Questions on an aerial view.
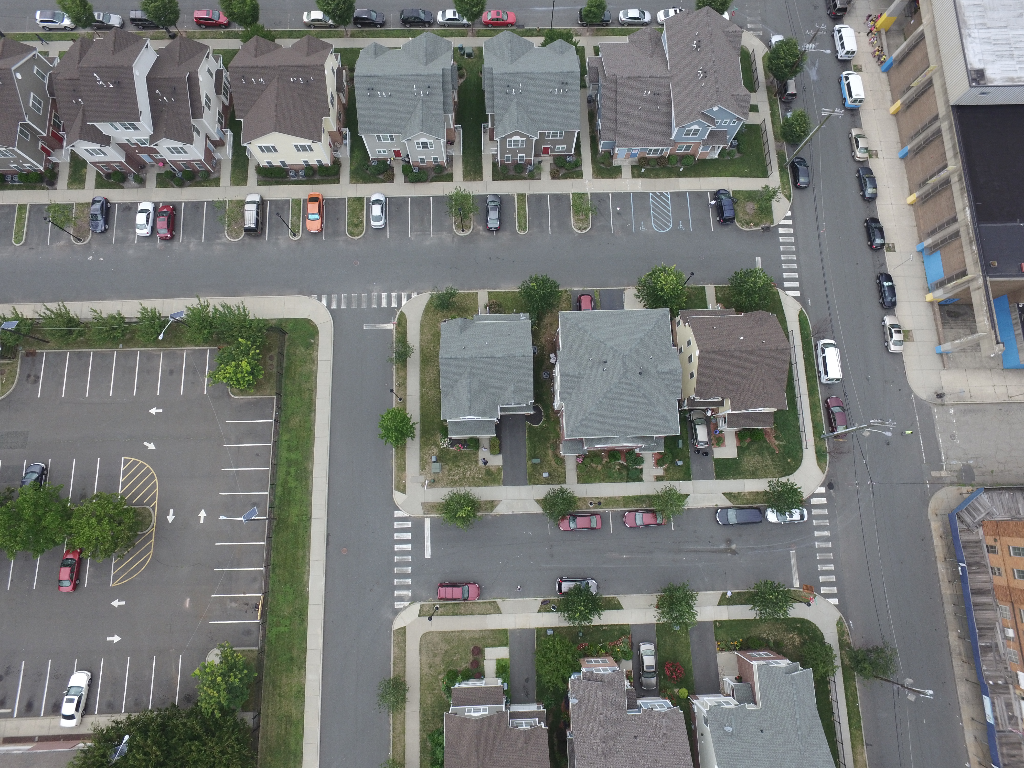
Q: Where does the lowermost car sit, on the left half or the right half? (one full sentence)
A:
It is on the left.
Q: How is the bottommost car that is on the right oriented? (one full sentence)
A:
The bottommost car that is on the right has been laid out up and down relative to the frame.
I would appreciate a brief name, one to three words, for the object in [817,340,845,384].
van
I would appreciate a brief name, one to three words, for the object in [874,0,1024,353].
building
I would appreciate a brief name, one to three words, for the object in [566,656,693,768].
house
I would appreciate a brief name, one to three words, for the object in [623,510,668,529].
car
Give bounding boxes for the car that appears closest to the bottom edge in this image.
[60,670,93,728]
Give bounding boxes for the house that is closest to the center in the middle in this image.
[439,311,534,438]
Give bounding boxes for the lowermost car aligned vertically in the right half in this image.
[638,642,660,690]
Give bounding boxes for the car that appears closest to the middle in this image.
[577,291,593,311]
